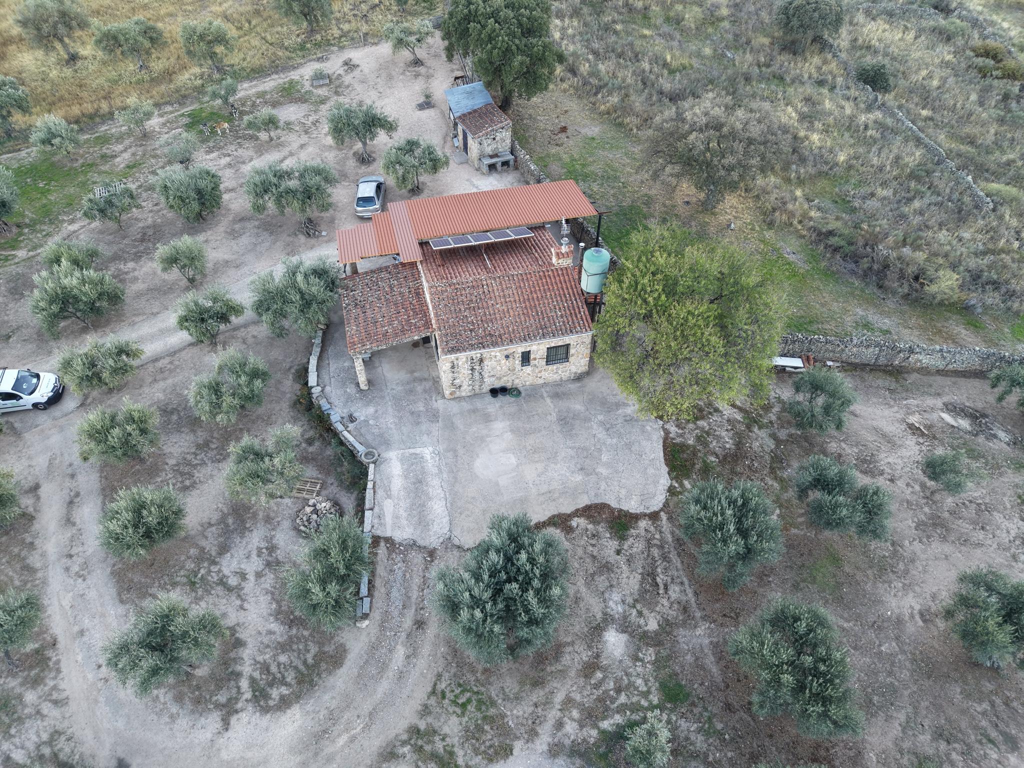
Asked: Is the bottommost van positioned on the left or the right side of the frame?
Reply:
left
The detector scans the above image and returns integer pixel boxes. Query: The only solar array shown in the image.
[431,227,535,271]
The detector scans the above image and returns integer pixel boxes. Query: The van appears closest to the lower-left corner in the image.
[0,365,63,413]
